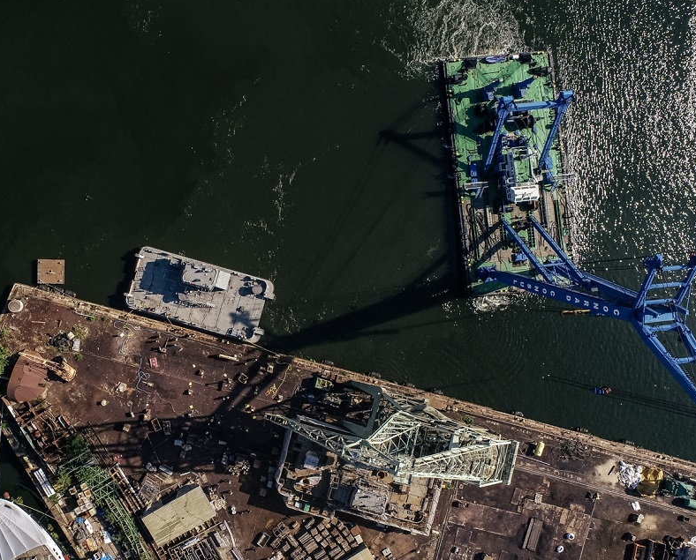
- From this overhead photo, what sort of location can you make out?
port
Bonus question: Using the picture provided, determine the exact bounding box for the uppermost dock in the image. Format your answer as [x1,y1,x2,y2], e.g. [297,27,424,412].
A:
[38,260,65,284]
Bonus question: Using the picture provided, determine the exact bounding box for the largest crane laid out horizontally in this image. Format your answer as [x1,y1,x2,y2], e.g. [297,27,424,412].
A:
[259,378,522,497]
